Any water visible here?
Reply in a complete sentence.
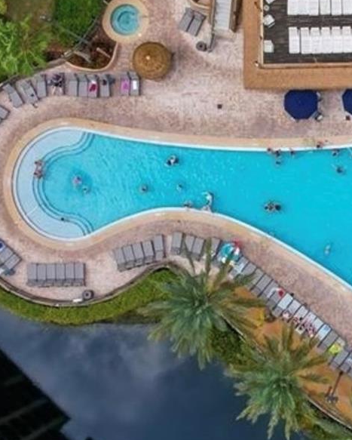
Yes, there is water in the image.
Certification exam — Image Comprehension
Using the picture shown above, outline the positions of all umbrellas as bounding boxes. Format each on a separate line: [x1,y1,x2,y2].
[341,88,352,116]
[133,40,177,84]
[284,88,319,122]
